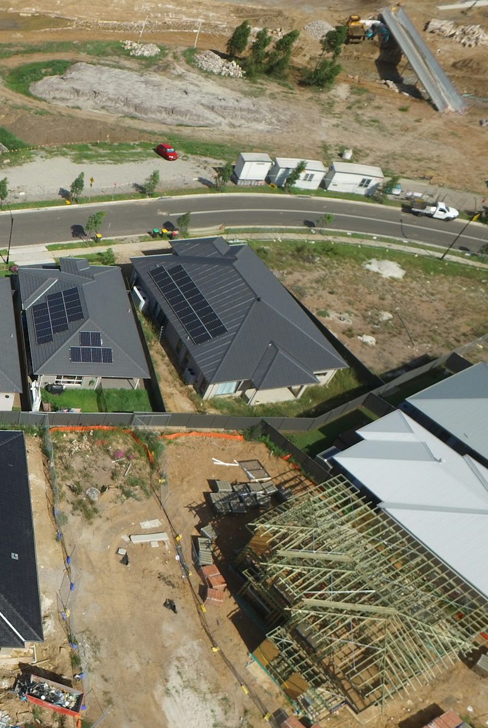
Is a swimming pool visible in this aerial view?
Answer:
No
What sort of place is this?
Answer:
residential area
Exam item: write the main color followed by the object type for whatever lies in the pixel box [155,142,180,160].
red car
